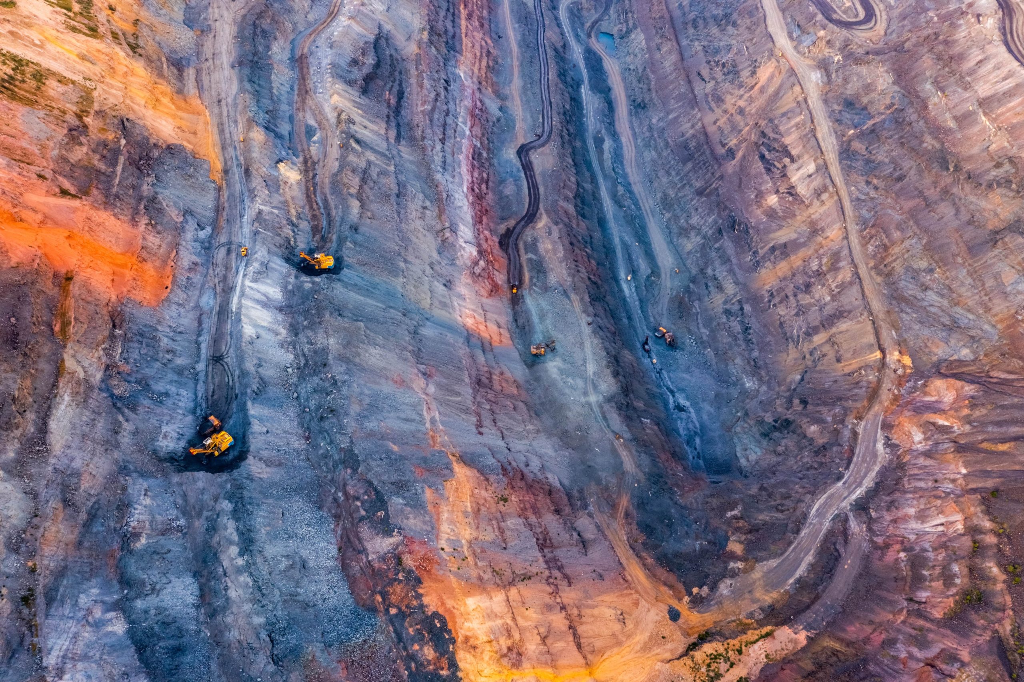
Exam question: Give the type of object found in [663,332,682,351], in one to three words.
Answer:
work vehicle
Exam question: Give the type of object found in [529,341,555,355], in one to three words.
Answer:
work vehicle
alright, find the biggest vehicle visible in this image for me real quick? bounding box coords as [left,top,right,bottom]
[178,428,227,458]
